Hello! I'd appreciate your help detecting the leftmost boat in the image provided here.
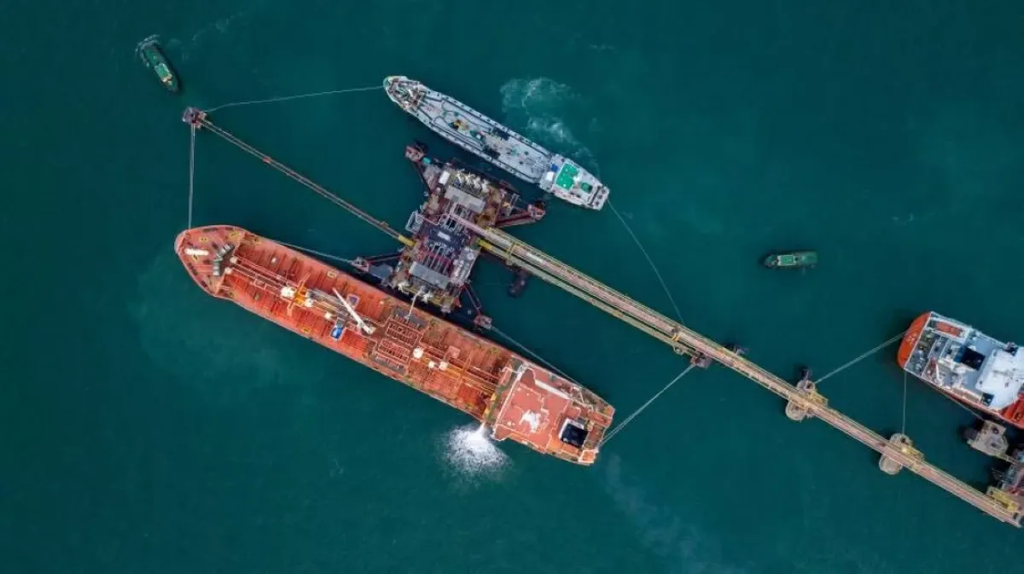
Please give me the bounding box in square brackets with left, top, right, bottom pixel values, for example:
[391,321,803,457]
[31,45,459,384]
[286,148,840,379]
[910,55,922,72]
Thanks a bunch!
[140,41,181,93]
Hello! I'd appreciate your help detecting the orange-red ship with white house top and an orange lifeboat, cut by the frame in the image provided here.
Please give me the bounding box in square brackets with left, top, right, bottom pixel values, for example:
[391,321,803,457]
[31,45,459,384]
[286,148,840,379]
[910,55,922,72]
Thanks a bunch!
[898,312,1024,430]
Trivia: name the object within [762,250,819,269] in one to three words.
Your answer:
boat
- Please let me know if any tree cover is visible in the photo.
No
